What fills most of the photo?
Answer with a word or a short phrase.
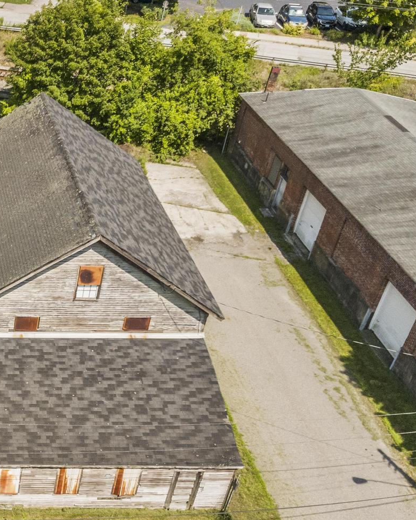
buildings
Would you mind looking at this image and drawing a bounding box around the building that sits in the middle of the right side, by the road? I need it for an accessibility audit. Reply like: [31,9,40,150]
[222,63,416,407]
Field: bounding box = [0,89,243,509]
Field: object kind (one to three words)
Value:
barn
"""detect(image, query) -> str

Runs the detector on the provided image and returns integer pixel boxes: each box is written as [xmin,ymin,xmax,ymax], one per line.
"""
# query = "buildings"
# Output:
[222,63,416,407]
[0,89,243,509]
